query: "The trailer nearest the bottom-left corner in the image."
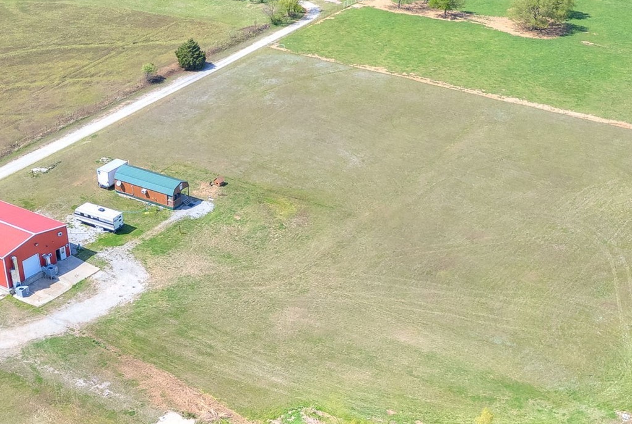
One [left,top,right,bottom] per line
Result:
[75,197,125,229]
